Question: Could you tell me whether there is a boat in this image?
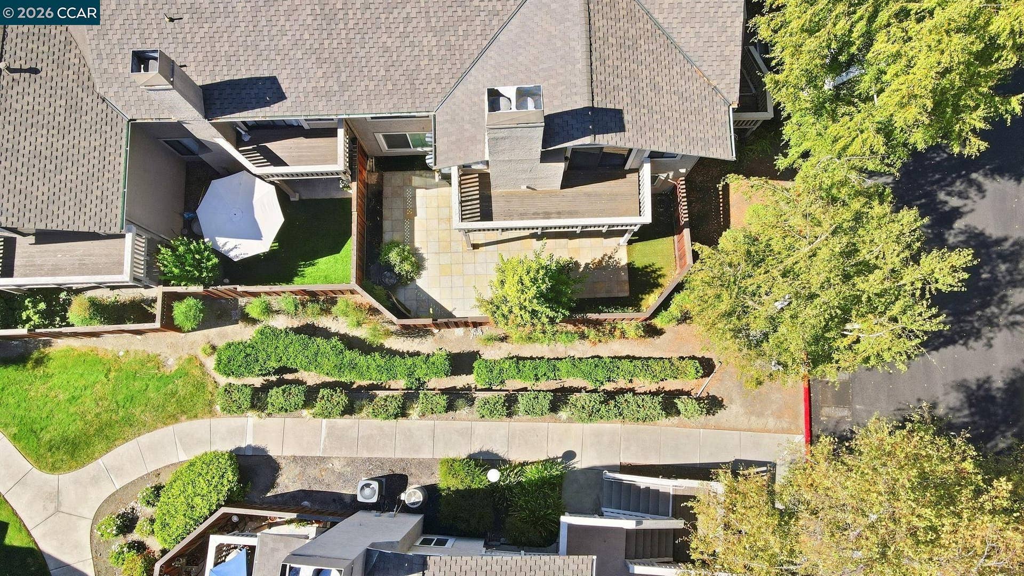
No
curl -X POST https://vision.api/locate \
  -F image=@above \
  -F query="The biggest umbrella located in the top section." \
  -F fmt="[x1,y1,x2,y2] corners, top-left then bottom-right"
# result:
[196,171,285,261]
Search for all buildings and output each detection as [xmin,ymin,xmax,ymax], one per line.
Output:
[205,472,733,576]
[93,0,771,250]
